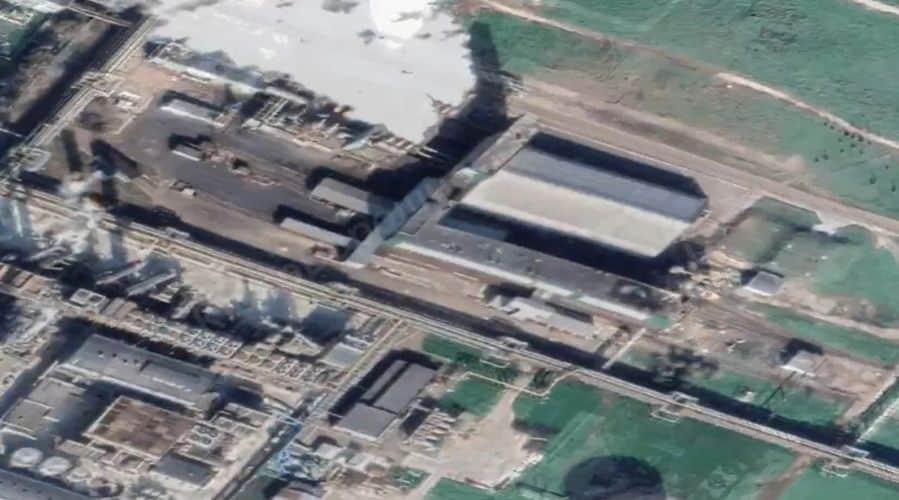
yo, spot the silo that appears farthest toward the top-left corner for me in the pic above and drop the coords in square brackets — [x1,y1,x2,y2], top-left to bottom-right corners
[68,173,88,196]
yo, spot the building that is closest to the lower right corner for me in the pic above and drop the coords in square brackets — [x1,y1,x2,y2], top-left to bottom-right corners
[781,349,823,375]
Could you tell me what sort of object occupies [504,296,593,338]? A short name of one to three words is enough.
shed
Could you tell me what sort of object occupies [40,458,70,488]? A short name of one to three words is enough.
storage tank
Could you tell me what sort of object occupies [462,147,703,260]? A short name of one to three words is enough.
building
